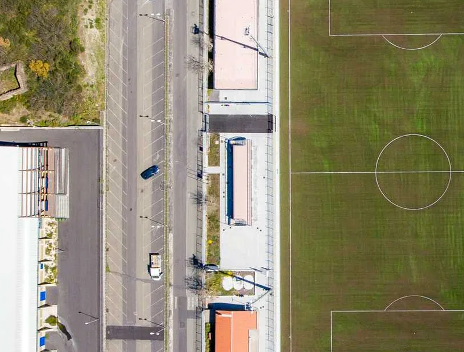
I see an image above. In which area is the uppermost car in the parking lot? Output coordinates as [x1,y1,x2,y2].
[139,166,159,179]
